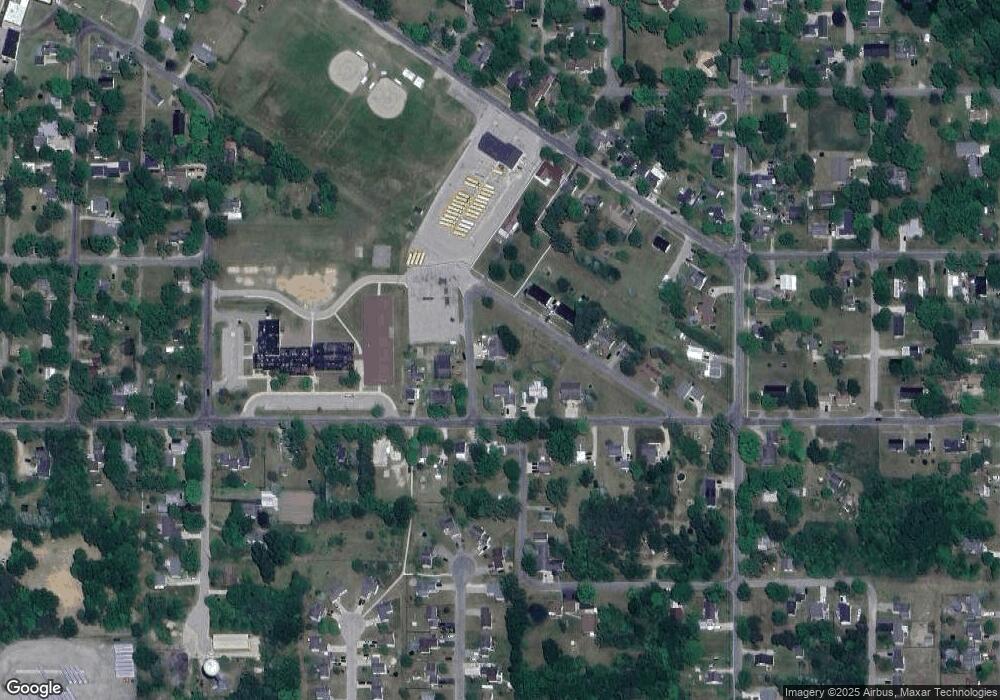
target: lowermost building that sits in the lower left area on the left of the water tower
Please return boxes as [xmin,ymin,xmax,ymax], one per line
[167,651,190,675]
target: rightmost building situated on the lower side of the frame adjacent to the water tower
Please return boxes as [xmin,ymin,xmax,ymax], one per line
[212,634,249,649]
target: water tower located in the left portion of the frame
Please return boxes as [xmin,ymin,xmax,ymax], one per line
[200,660,231,689]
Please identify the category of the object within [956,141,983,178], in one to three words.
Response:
house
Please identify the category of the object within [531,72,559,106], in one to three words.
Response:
building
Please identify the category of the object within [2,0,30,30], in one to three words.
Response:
building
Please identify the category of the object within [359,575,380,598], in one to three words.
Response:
house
